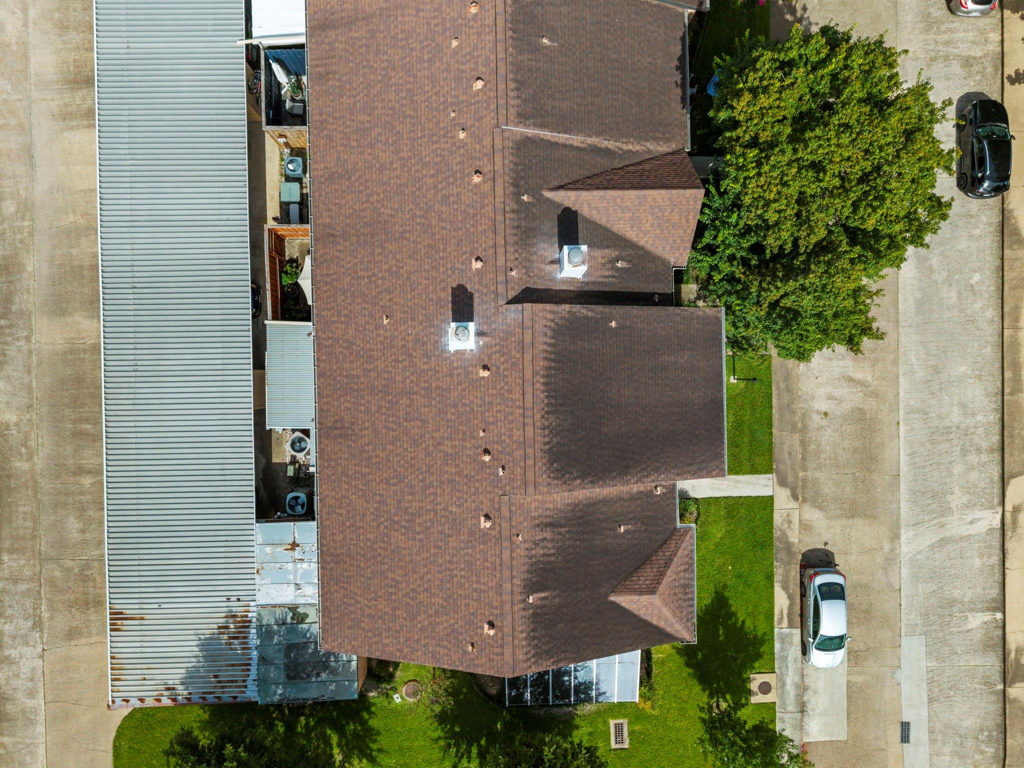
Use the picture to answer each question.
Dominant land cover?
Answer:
buildings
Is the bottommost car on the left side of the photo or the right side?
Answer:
right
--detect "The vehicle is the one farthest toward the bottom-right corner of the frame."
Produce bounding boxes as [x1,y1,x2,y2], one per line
[800,565,852,667]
